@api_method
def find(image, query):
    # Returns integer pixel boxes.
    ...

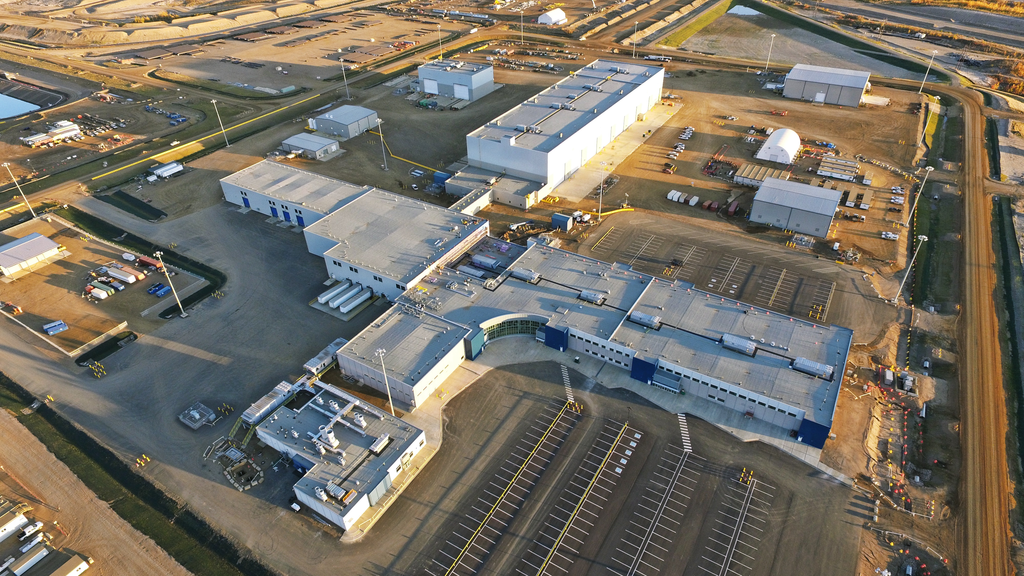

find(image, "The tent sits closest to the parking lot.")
[753,127,804,165]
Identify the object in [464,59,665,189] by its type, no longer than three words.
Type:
warehouse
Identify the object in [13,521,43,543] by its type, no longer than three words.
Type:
truck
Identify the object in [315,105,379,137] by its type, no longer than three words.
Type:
shed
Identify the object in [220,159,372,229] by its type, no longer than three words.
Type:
building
